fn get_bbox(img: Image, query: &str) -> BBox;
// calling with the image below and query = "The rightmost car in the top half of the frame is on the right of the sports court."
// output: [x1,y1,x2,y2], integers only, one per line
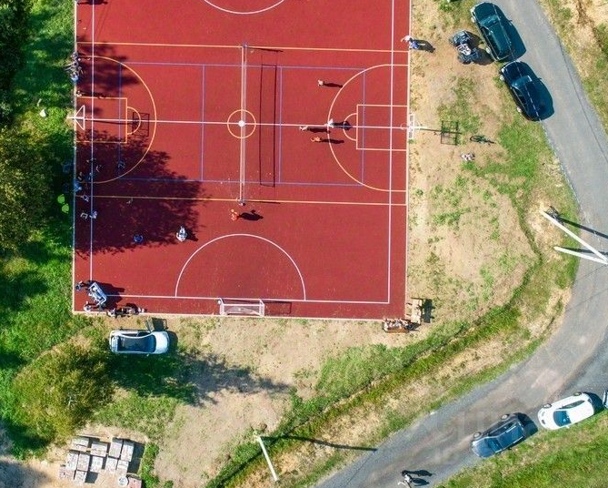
[502,60,547,117]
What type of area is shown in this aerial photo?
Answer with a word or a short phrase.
sports ground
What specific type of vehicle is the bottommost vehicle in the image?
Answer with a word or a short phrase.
car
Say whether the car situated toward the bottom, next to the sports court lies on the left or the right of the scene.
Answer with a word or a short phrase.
left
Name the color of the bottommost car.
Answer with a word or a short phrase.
blue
